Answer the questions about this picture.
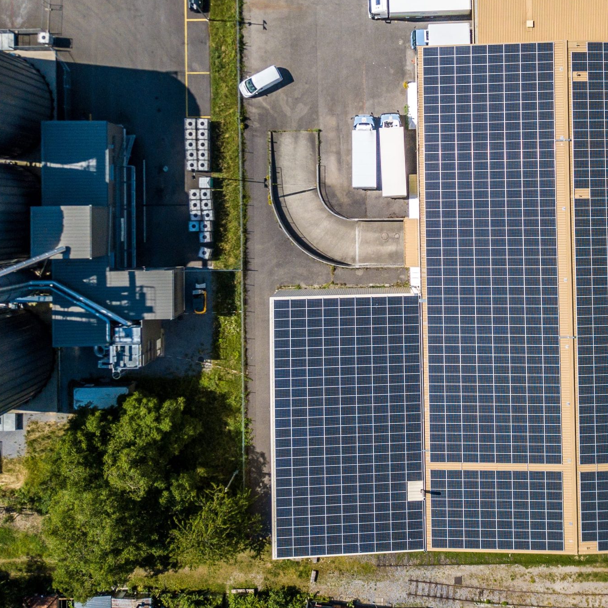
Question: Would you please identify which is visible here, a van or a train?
van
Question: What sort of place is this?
industrial area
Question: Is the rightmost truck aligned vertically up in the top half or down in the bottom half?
top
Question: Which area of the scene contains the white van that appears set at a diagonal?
top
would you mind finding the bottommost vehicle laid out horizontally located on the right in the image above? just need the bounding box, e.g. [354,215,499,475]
[408,23,470,54]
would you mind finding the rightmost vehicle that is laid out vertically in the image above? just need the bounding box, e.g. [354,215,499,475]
[374,112,406,197]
